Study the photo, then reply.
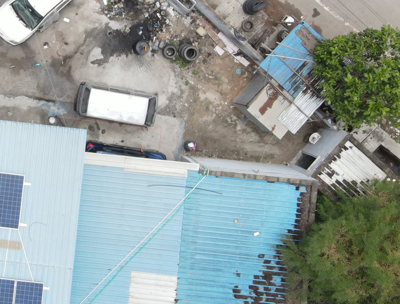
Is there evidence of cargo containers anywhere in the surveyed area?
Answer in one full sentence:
No, the picture doesn't show any cargo container.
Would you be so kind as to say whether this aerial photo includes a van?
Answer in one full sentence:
Yes, there is a van in the image.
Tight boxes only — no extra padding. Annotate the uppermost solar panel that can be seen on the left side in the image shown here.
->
[0,172,25,229]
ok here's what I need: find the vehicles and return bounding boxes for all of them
[86,135,166,156]
[0,0,70,44]
[72,79,159,132]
